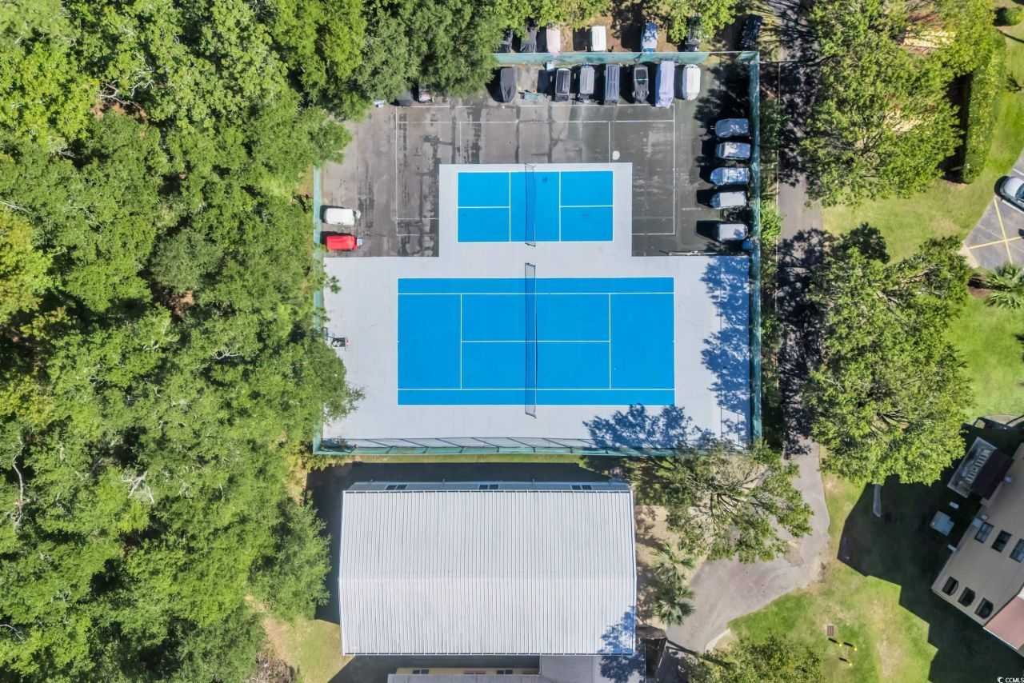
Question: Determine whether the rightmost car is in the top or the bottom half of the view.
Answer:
top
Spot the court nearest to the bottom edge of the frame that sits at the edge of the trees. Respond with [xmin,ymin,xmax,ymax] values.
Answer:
[323,257,750,447]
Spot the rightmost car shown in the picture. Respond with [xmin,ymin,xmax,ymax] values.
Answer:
[996,170,1024,204]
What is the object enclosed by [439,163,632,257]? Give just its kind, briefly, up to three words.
sports court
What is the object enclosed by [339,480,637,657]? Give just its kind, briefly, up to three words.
building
